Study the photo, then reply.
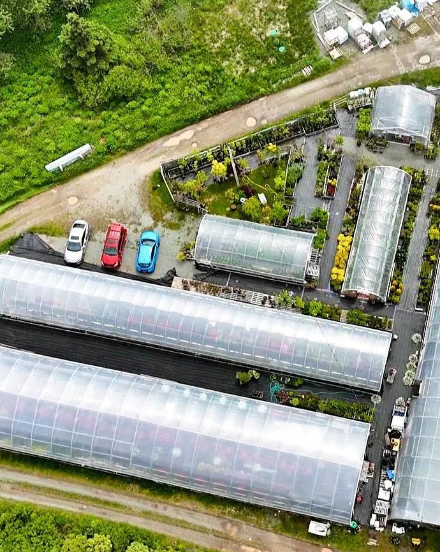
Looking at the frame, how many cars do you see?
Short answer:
3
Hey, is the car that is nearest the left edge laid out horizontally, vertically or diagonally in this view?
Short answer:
vertically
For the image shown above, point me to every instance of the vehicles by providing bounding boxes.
[99,220,126,270]
[61,215,88,265]
[135,227,160,274]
